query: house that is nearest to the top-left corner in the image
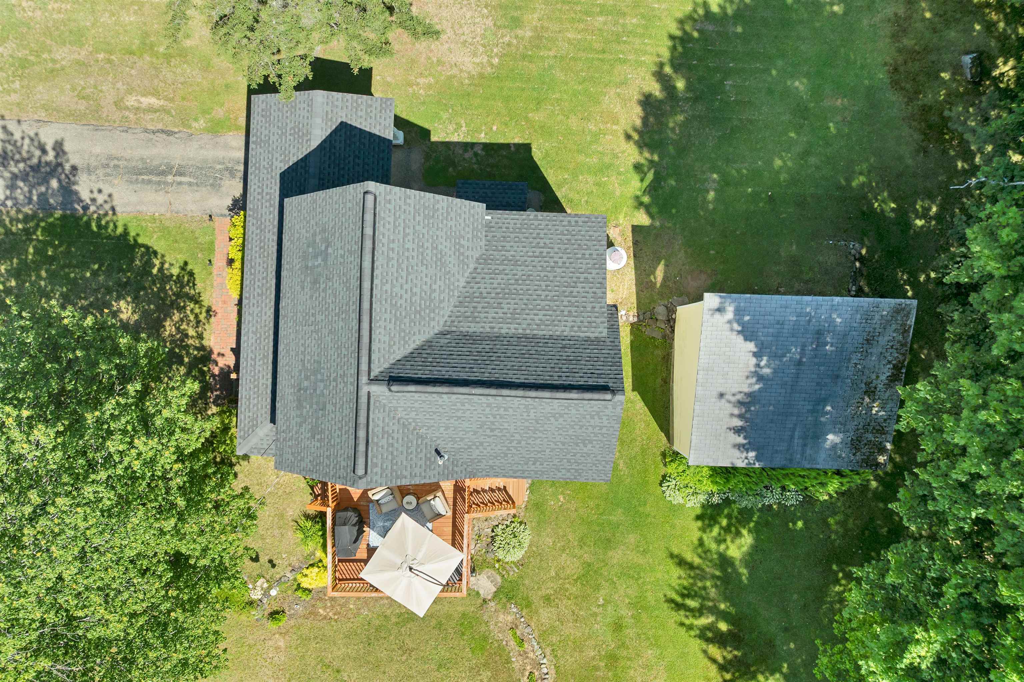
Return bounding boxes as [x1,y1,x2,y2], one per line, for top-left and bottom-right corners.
[238,88,626,490]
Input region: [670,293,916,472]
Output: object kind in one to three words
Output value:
shed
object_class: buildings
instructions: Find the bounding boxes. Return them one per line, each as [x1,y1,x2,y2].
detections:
[238,88,626,490]
[670,293,916,472]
